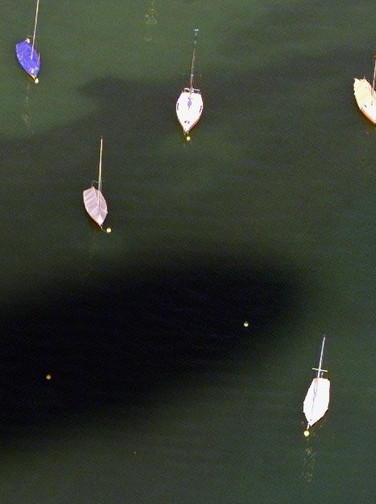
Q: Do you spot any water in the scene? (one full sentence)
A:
Yes, water can be seen from above here.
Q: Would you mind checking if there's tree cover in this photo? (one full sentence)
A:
No, no tree cover is visible.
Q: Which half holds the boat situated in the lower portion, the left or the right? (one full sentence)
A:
You can find the boat situated in the lower portion on the right side of the picture.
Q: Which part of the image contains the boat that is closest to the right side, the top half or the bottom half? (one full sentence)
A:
The boat that is closest to the right side sits in the top half of the picture.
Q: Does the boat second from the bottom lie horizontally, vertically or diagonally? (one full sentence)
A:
The boat second from the bottom is oriented vertically.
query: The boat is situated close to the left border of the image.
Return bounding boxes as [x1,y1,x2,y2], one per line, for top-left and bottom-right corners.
[16,0,41,81]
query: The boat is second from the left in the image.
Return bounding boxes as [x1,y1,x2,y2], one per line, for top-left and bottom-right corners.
[83,136,108,229]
